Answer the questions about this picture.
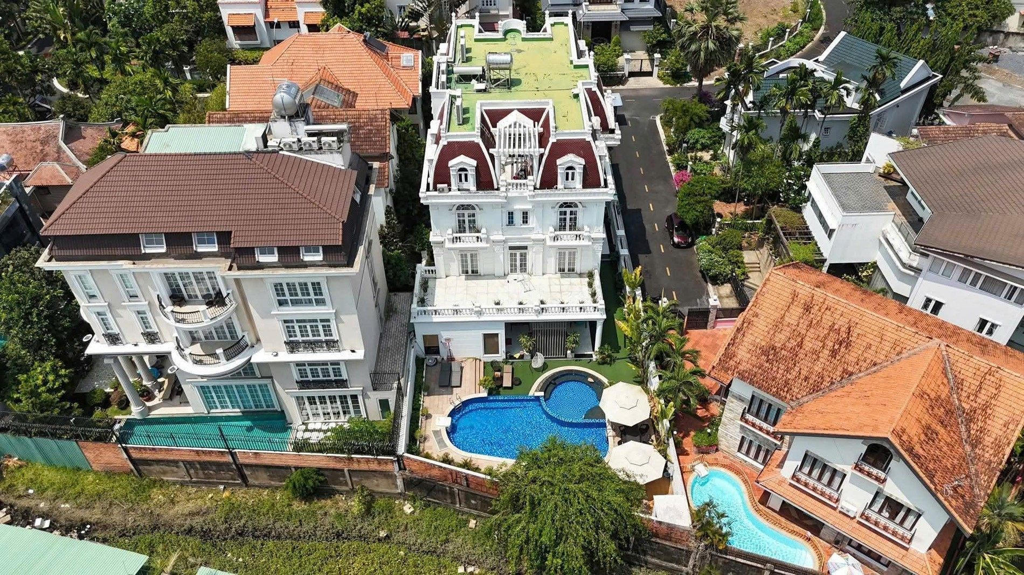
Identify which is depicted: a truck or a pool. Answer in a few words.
pool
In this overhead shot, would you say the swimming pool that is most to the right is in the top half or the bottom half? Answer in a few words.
bottom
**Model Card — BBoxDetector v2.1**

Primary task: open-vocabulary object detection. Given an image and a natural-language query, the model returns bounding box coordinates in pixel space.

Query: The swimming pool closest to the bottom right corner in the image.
[685,462,820,575]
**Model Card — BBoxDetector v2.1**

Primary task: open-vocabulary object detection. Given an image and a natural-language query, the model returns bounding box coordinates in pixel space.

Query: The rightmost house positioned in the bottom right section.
[697,266,1024,575]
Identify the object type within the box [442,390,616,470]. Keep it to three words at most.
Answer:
swimming pool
